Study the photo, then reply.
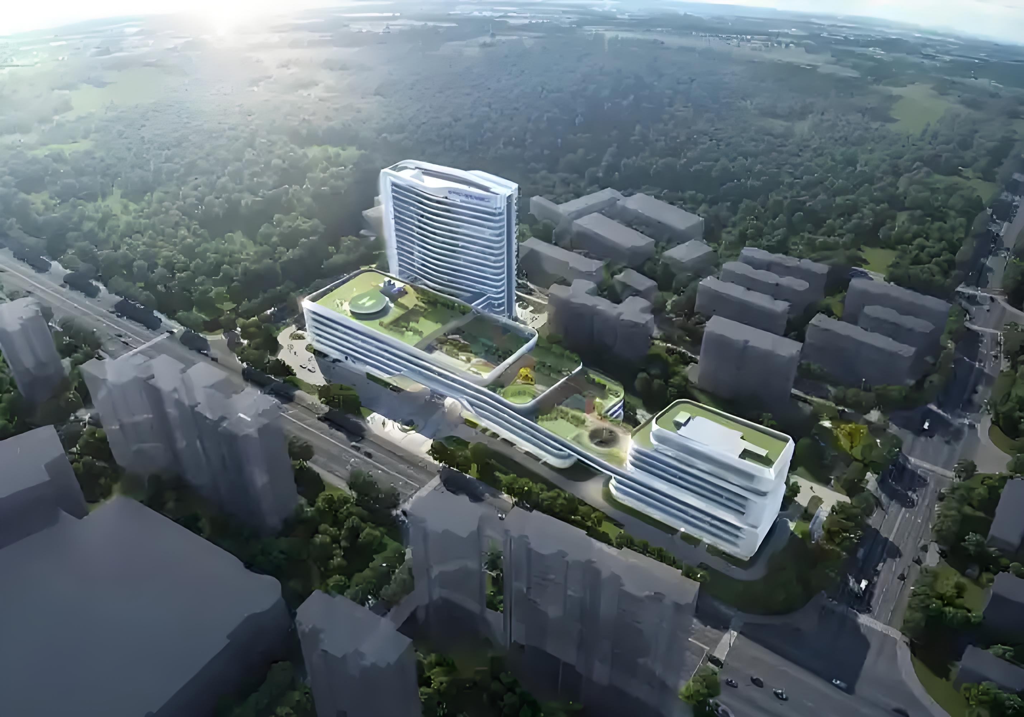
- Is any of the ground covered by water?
No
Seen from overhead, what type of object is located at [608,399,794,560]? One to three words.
building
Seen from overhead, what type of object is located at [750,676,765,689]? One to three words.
vehicle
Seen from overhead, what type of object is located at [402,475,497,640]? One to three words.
building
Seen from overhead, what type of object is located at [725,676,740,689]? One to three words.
vehicle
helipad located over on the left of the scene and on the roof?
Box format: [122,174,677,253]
[348,291,386,313]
